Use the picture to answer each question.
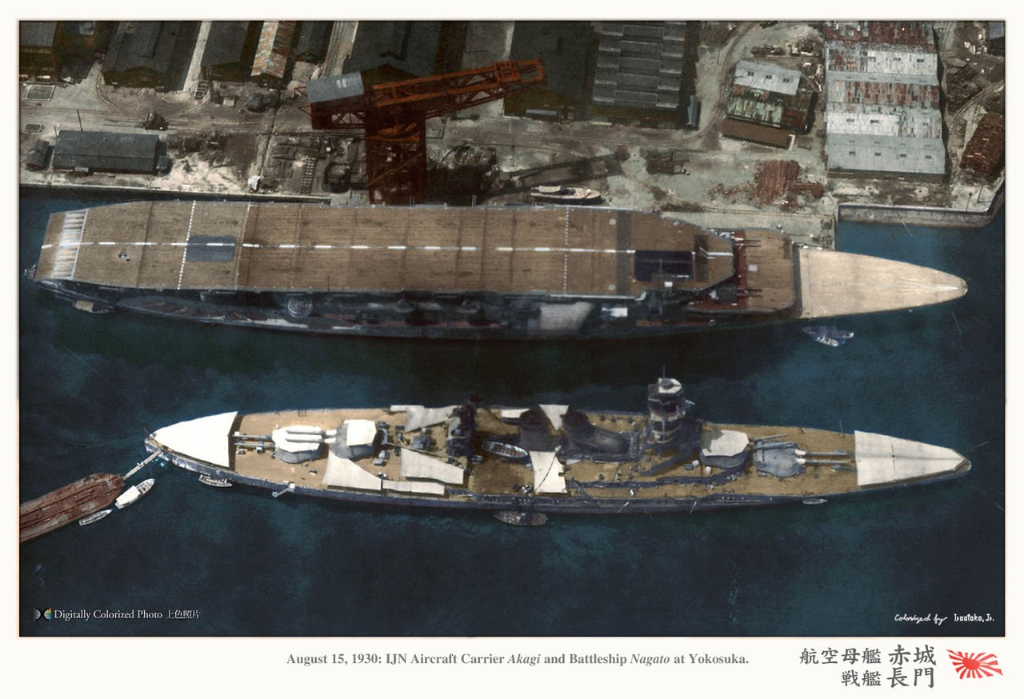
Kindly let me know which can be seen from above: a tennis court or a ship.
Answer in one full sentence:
The image shows a ship.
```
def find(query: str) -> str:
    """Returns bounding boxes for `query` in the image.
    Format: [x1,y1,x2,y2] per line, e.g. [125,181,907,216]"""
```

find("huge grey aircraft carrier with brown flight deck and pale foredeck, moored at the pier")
[33,185,973,342]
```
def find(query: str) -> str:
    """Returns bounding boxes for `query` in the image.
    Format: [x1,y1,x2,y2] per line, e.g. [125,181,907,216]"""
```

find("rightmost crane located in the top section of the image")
[296,59,554,204]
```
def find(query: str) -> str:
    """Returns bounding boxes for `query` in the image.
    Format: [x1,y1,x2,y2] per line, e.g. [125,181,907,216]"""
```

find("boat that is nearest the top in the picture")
[531,186,602,202]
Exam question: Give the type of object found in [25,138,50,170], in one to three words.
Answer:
shed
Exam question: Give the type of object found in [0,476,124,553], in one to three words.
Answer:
ship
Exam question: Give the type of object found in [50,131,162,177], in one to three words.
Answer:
building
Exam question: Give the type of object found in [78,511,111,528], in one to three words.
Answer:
boat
